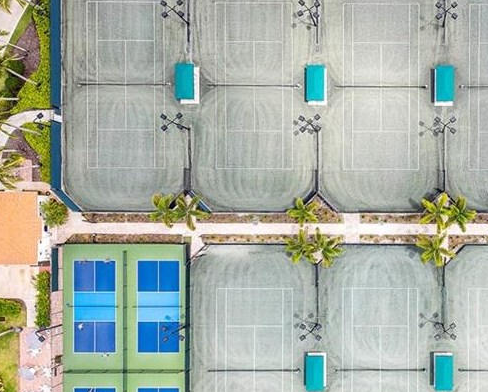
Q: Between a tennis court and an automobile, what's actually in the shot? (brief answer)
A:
tennis court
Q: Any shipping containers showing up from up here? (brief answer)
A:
No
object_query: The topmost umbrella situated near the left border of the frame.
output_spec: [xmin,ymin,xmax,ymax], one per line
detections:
[21,333,38,347]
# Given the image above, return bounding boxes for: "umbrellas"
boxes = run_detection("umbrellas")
[15,367,33,384]
[21,333,38,347]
